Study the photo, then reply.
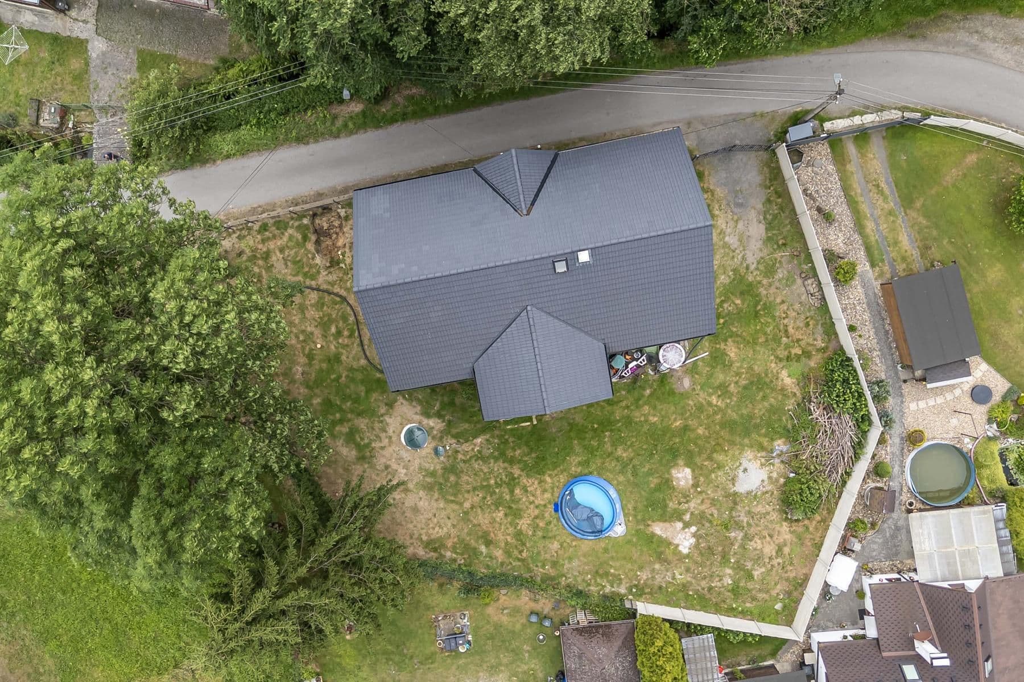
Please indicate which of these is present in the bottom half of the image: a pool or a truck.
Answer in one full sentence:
Looking in the bottom half of the image, you will find a pool.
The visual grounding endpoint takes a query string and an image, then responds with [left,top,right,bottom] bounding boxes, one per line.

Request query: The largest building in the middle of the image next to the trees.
[352,125,715,421]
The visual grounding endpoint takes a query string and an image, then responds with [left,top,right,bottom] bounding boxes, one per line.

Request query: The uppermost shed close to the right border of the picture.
[879,264,980,386]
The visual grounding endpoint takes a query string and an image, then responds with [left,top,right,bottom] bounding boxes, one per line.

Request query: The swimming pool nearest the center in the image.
[558,473,624,539]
